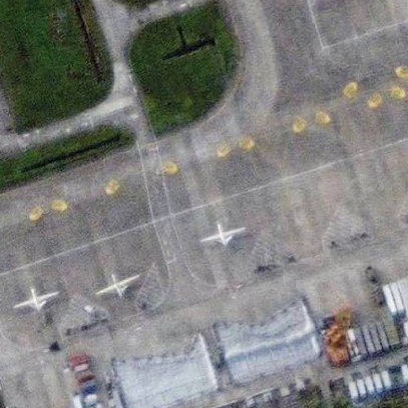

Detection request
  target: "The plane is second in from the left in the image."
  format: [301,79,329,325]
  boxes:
[95,276,141,299]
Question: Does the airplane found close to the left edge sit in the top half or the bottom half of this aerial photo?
bottom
